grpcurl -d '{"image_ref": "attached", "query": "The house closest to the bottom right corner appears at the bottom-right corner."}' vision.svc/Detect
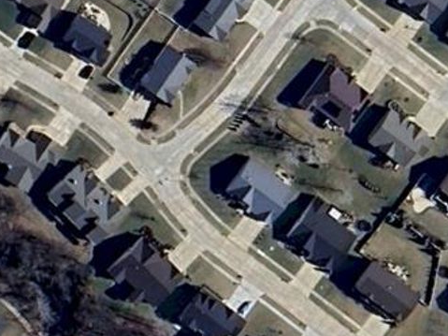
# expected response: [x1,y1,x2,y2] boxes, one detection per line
[356,260,422,323]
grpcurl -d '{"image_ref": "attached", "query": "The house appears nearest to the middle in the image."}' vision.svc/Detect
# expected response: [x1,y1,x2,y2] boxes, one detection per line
[229,154,300,226]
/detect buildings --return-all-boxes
[287,200,358,272]
[105,233,178,302]
[139,42,198,105]
[14,0,62,31]
[229,154,300,226]
[193,0,254,43]
[180,287,247,336]
[302,65,374,132]
[48,162,123,239]
[0,125,52,194]
[60,11,117,69]
[356,260,422,323]
[394,0,447,23]
[369,105,436,169]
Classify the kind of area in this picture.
residential area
